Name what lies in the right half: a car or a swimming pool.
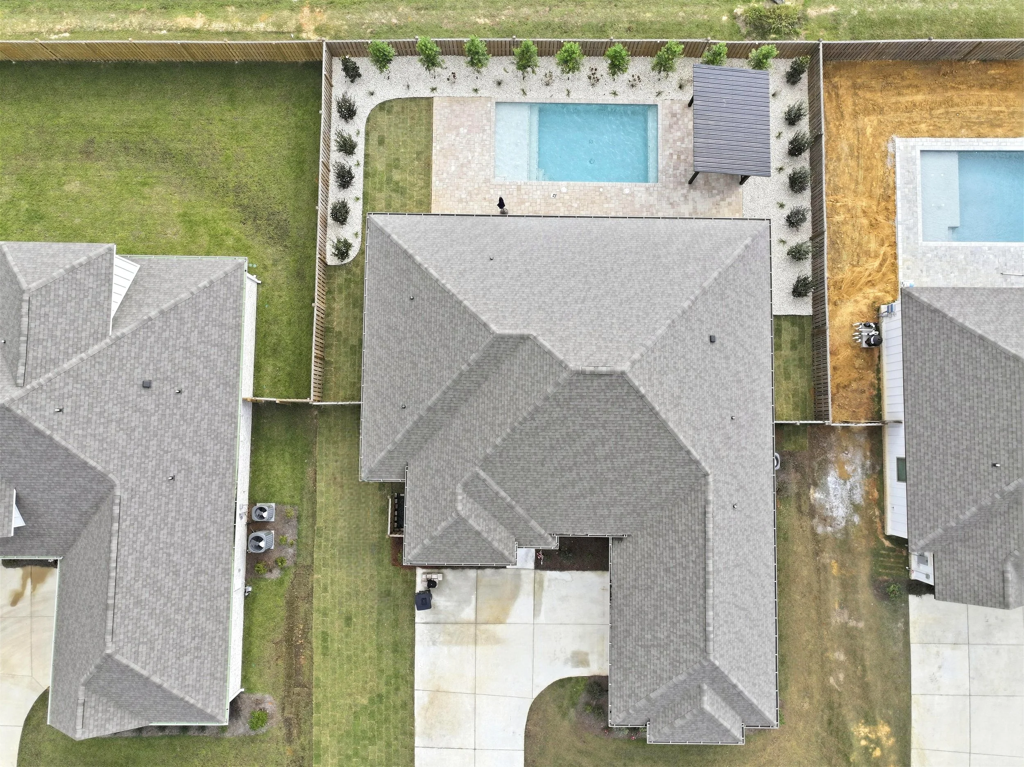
swimming pool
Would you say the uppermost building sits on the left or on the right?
right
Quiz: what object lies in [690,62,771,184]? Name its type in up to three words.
building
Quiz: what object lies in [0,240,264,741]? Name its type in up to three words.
house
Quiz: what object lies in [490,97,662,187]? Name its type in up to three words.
swimming pool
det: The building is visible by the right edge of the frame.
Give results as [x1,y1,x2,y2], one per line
[871,287,1024,610]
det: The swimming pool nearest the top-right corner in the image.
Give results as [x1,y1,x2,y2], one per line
[916,146,1024,247]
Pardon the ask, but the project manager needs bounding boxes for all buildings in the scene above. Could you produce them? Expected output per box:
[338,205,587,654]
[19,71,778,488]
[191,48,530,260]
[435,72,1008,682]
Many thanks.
[0,240,264,741]
[690,62,771,184]
[359,213,778,745]
[871,287,1024,610]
